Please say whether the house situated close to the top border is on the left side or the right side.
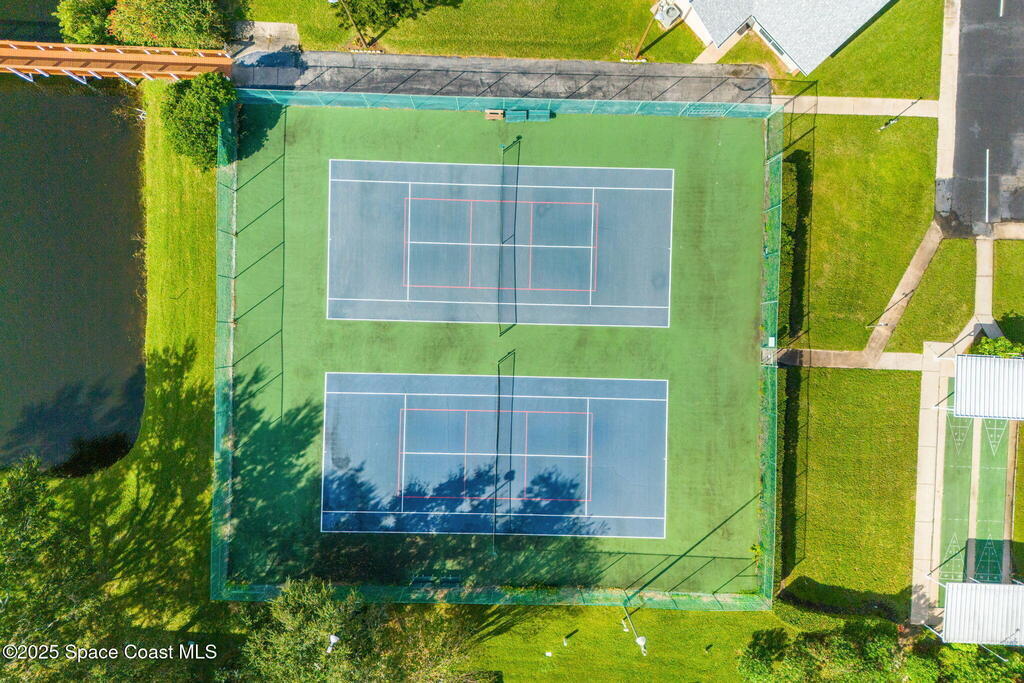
right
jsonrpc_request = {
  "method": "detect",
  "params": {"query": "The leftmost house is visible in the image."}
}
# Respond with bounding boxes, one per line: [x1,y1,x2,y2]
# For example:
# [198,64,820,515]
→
[680,0,885,84]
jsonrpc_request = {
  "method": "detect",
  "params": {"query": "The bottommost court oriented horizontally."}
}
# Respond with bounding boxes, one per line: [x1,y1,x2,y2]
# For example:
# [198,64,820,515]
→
[322,373,667,537]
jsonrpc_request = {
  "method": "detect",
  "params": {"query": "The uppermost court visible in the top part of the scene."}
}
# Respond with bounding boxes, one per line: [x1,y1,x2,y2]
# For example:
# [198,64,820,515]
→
[327,160,673,327]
